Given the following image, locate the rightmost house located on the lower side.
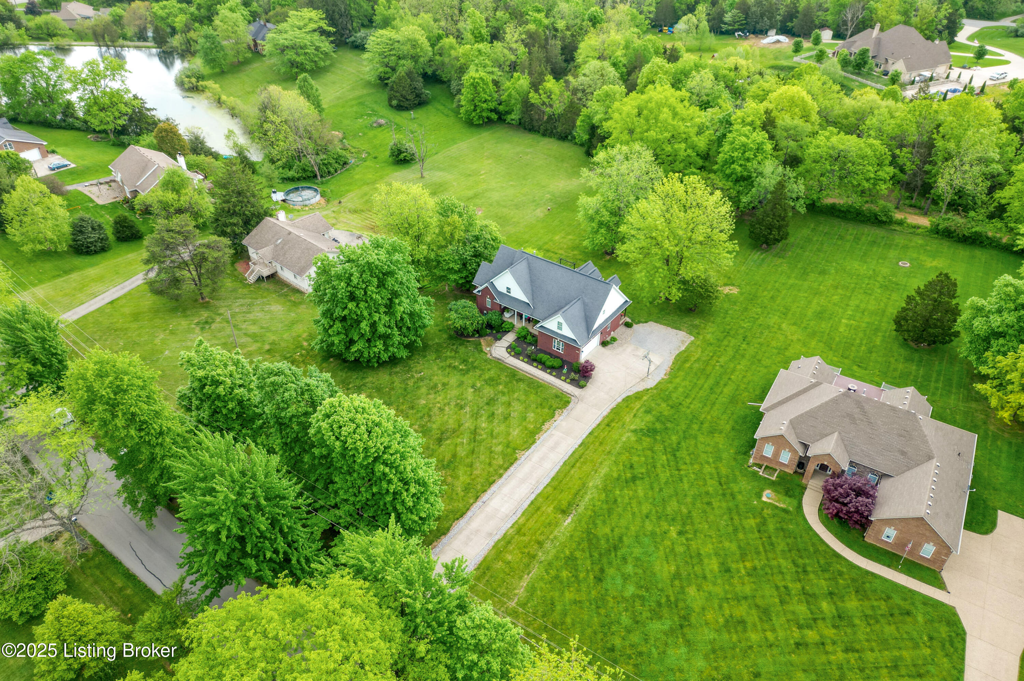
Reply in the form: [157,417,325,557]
[753,355,983,572]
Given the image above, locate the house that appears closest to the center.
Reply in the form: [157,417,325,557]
[472,246,634,362]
